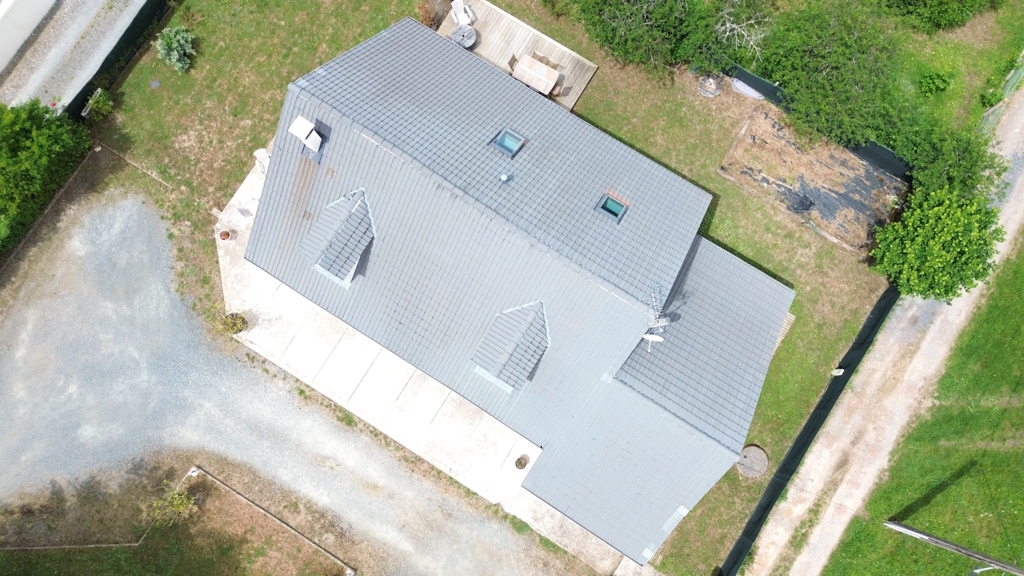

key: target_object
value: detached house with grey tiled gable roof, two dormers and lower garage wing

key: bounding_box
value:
[243,16,796,567]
